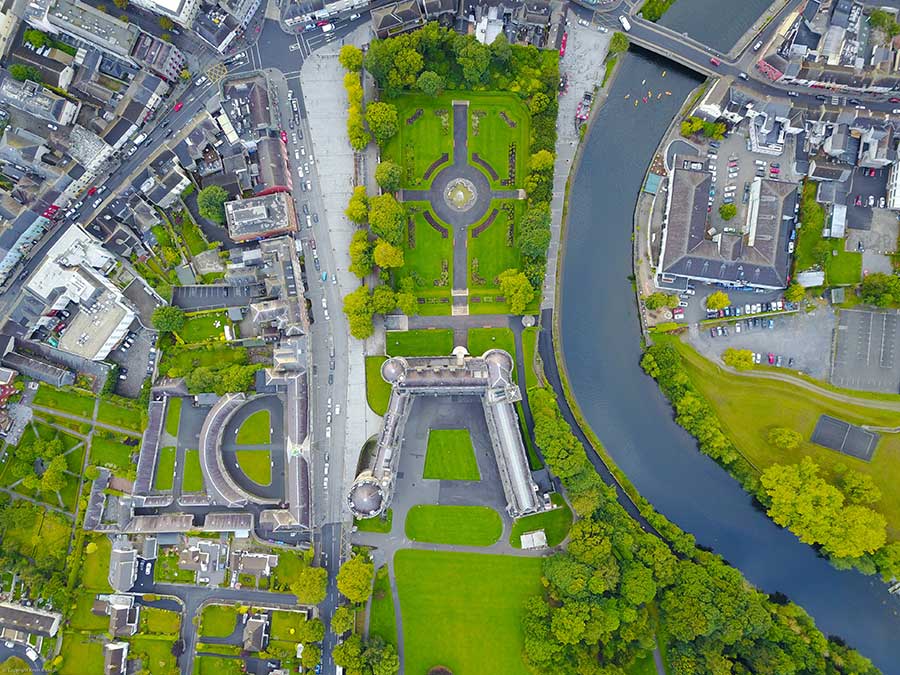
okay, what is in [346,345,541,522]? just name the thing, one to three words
building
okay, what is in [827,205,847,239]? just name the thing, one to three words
shed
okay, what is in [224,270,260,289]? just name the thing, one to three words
house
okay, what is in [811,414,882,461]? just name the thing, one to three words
sports court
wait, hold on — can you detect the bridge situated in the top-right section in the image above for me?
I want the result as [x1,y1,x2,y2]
[608,9,728,78]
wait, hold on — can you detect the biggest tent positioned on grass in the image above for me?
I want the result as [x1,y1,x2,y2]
[519,529,547,549]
